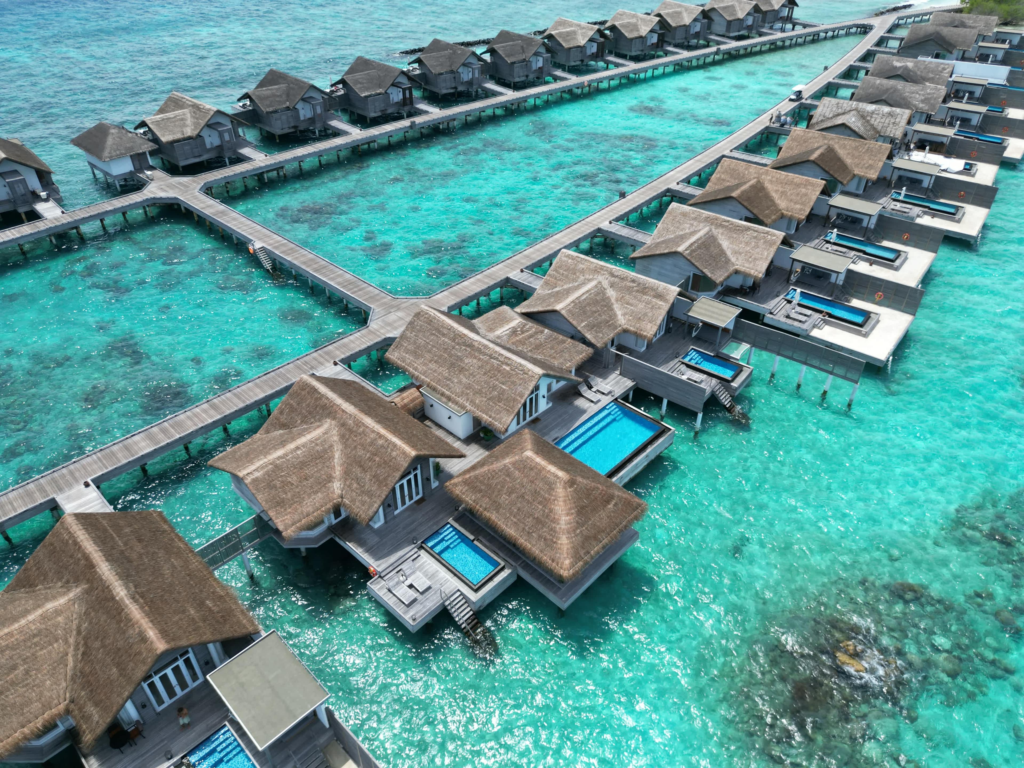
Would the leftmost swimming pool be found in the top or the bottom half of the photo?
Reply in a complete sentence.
Seen from above, the leftmost swimming pool lies in the bottom half of the view.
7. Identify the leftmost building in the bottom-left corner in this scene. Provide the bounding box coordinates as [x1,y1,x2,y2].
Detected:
[0,507,260,758]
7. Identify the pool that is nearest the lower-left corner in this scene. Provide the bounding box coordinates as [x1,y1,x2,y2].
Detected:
[174,721,265,768]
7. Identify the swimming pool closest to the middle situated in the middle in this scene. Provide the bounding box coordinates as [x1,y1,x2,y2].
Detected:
[551,398,675,488]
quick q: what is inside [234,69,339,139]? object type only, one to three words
house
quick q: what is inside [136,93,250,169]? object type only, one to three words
house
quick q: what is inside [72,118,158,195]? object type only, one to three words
shed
